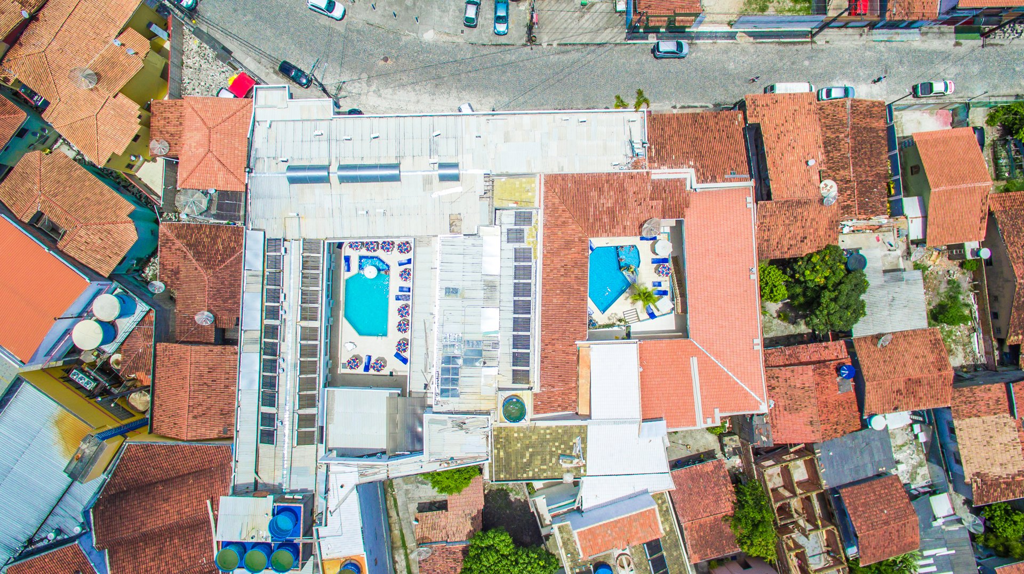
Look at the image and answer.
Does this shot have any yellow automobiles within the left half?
No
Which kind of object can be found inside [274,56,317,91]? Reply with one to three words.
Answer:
car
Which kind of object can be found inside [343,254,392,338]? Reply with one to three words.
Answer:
swimming pool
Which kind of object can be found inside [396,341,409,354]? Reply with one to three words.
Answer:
umbrella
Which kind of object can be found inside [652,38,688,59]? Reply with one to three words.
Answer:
car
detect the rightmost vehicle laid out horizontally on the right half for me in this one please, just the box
[913,78,953,98]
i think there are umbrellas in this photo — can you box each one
[396,341,409,354]
[657,264,671,278]
[349,243,362,251]
[372,358,385,371]
[654,295,674,313]
[399,305,409,318]
[398,320,409,333]
[347,355,360,368]
[380,242,393,252]
[363,265,378,280]
[653,239,671,257]
[365,242,378,253]
[396,242,409,254]
[399,270,410,282]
